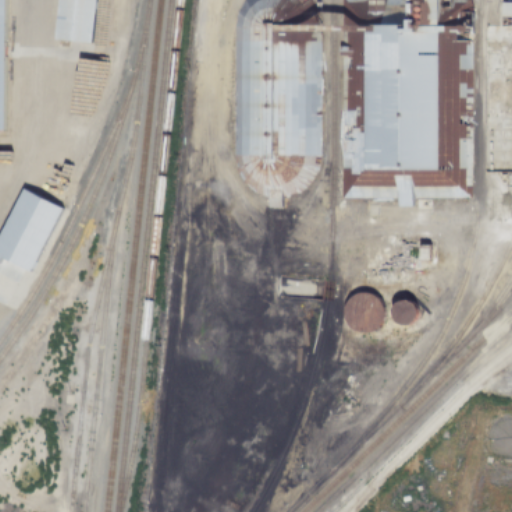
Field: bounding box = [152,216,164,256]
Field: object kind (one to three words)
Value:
rail car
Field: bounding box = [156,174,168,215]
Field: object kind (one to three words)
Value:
rail car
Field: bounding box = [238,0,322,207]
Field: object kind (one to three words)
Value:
building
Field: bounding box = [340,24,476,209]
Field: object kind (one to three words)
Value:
building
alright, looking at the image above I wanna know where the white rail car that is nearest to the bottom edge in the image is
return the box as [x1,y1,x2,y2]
[142,300,155,342]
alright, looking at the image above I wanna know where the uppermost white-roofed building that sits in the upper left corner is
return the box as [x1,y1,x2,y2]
[55,0,97,43]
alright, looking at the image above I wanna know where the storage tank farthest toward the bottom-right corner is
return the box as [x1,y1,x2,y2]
[392,298,432,326]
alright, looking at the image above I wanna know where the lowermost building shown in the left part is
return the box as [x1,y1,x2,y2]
[0,188,65,270]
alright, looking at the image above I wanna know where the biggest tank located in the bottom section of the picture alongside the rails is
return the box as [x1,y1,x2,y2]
[344,292,388,332]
